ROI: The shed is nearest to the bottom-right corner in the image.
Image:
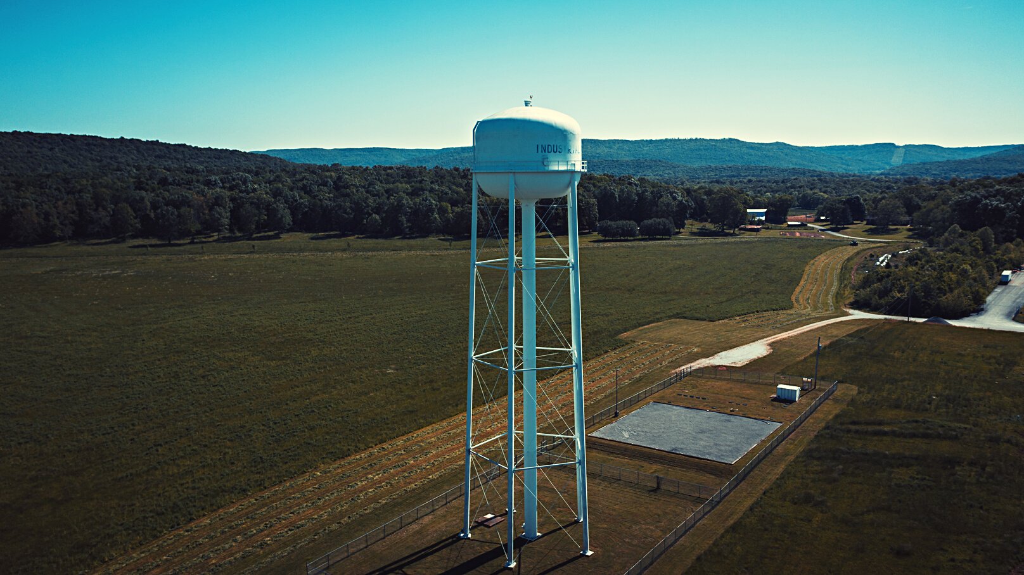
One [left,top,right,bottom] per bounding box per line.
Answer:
[776,383,803,402]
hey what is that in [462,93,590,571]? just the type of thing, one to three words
water tower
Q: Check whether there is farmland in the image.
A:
Yes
